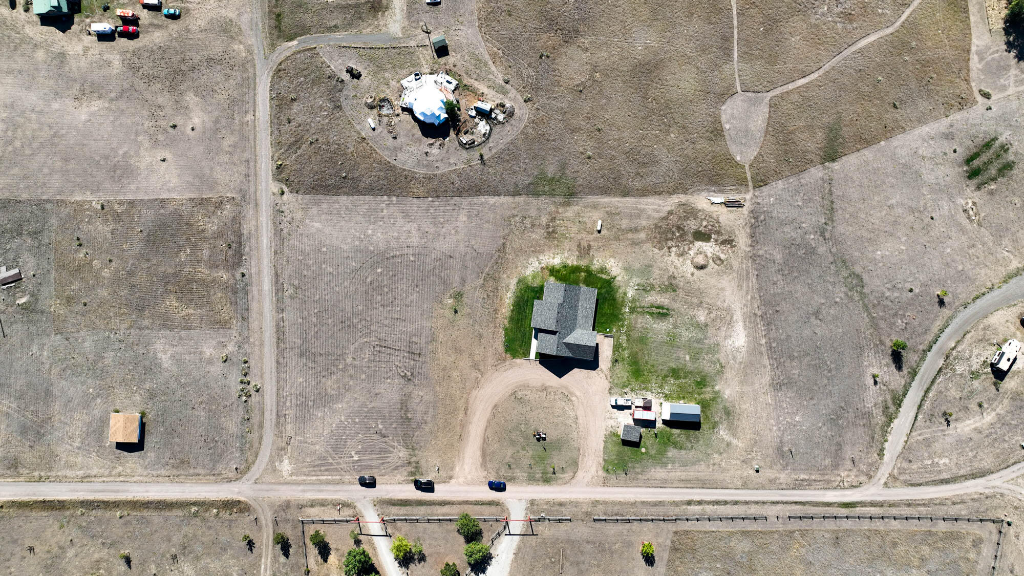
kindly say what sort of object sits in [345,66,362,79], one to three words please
vehicle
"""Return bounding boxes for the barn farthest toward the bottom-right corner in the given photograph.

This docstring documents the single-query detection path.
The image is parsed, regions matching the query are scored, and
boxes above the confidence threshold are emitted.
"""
[660,404,702,423]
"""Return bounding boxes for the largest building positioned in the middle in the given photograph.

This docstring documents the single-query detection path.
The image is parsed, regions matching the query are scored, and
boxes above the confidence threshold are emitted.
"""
[530,282,598,360]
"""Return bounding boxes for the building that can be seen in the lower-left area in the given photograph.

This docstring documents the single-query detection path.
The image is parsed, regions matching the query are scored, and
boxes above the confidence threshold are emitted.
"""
[110,412,145,443]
